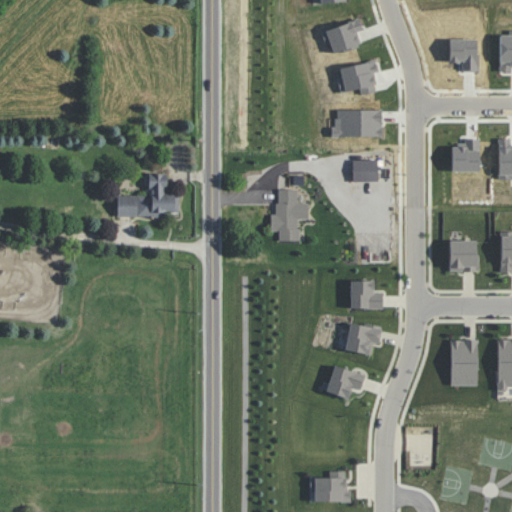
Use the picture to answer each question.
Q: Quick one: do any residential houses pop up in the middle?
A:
Yes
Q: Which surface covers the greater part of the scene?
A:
grass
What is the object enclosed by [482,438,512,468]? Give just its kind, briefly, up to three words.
basketball court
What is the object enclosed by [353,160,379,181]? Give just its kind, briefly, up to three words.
building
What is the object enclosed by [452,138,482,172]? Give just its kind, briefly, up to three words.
house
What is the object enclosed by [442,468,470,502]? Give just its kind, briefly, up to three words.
basketball court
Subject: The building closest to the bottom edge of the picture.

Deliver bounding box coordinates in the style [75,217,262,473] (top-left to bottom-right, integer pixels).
[315,472,351,504]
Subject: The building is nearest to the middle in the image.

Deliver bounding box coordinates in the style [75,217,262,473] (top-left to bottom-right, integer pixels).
[272,190,309,242]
